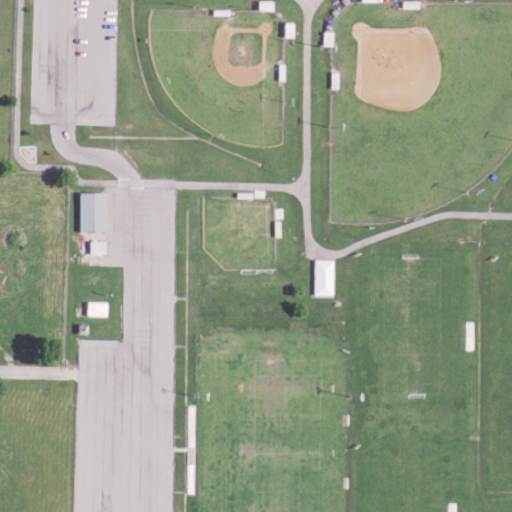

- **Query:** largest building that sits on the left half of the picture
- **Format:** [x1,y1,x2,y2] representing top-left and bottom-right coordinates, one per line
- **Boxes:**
[80,193,108,232]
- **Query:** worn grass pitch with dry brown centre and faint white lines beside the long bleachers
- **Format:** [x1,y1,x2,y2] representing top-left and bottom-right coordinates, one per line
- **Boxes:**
[202,334,342,512]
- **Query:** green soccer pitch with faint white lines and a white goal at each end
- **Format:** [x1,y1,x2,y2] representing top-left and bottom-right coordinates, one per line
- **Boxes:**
[380,252,444,398]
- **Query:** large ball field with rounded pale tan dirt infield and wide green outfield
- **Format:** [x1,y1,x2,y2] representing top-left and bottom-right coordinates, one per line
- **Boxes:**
[332,2,512,224]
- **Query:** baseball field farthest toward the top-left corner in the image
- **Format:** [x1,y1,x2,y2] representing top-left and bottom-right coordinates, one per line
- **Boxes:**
[148,10,284,148]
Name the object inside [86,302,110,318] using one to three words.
building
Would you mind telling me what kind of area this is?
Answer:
sports ground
